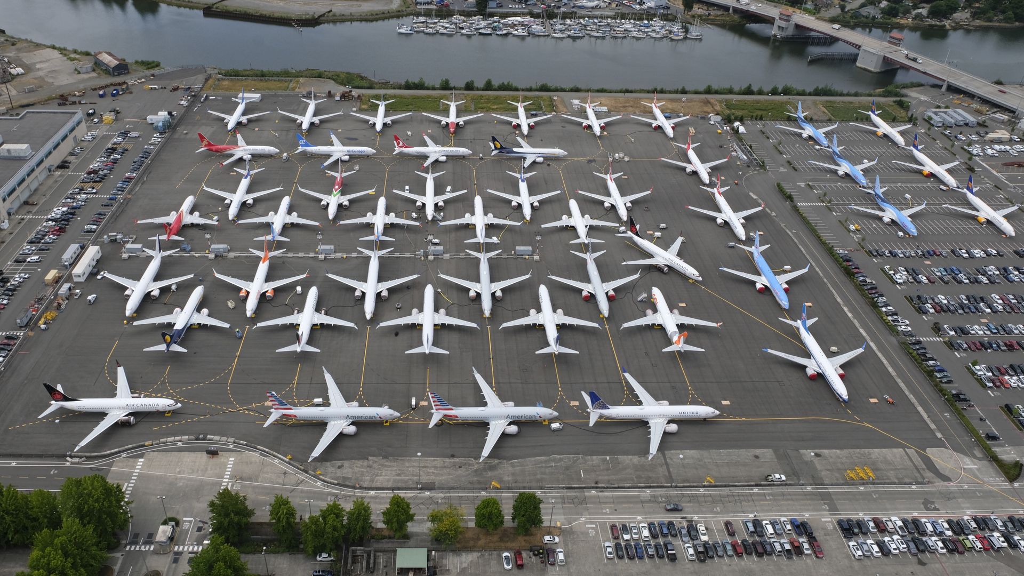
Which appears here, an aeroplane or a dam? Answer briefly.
aeroplane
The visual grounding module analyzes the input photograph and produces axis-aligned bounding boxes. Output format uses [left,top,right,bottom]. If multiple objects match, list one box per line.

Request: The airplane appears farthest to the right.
[943,173,1019,237]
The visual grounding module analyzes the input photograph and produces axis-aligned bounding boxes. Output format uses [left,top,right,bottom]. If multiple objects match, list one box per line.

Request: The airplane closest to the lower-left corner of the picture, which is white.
[35,356,186,451]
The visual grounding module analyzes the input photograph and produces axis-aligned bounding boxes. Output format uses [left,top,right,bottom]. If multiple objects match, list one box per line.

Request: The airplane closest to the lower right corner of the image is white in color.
[764,304,868,403]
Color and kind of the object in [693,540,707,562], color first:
gray vehicle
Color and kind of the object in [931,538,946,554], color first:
white car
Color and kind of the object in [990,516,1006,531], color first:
gray car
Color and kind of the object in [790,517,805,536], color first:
blue vehicle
